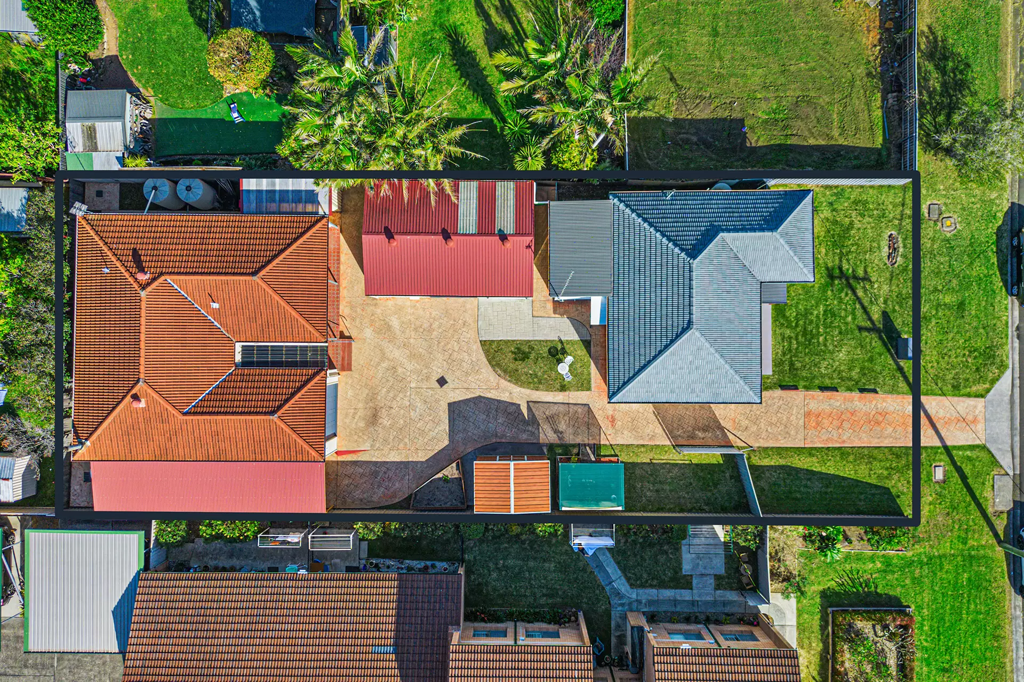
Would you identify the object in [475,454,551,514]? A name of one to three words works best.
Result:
gazebo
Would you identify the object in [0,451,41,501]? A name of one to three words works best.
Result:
shed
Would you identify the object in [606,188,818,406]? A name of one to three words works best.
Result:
house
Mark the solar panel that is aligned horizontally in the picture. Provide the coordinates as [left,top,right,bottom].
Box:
[242,343,326,365]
